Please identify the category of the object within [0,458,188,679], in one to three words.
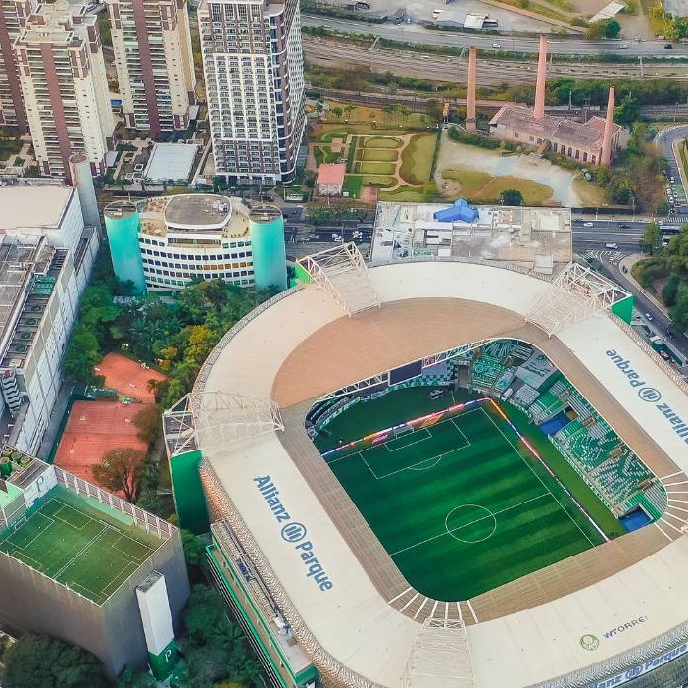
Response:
building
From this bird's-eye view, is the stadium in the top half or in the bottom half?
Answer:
bottom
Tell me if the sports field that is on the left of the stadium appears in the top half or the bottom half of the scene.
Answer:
bottom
